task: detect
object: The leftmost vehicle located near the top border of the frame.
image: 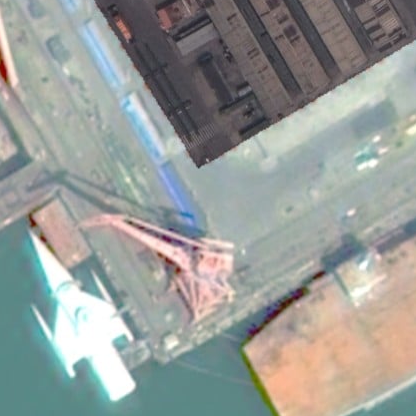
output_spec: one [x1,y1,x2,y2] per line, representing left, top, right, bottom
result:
[110,9,133,40]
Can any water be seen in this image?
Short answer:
Yes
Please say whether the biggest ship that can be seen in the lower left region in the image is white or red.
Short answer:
white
